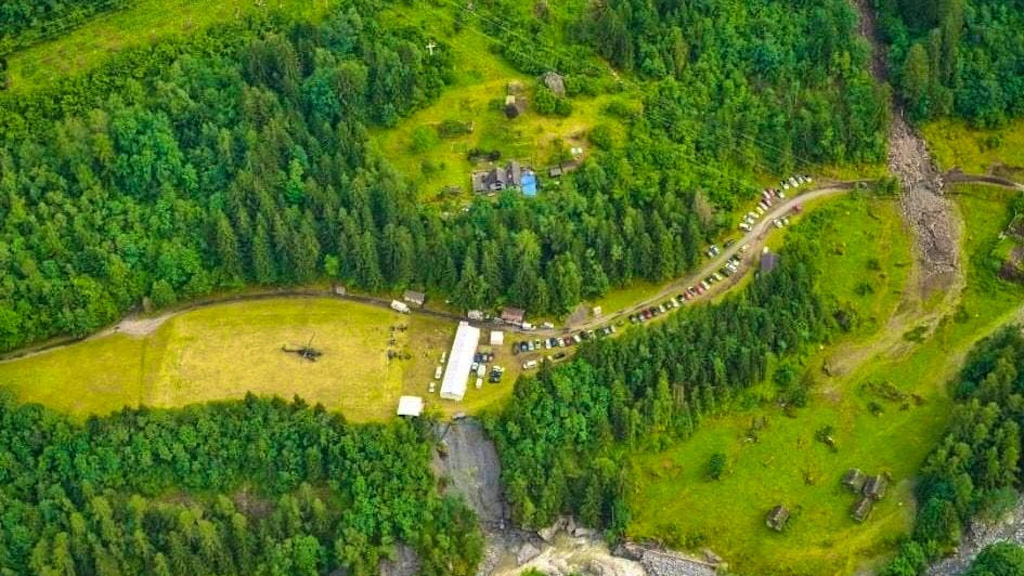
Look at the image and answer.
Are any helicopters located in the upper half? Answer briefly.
No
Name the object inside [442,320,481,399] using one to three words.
tent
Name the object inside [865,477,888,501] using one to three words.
shed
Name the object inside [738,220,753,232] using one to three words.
vehicle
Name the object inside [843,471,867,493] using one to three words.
shed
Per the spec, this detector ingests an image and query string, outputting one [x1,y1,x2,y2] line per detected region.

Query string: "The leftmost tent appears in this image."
[397,397,422,418]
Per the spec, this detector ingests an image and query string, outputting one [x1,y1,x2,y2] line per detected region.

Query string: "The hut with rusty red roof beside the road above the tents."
[502,308,525,325]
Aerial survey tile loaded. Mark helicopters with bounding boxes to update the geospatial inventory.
[276,331,329,366]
